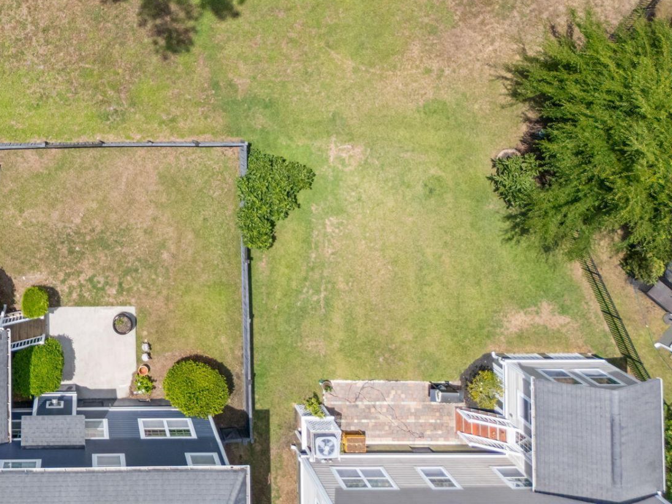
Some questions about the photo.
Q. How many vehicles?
0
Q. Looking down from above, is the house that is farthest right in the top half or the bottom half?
bottom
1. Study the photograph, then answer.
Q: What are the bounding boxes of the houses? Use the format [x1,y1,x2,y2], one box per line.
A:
[285,343,672,504]
[0,312,250,504]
